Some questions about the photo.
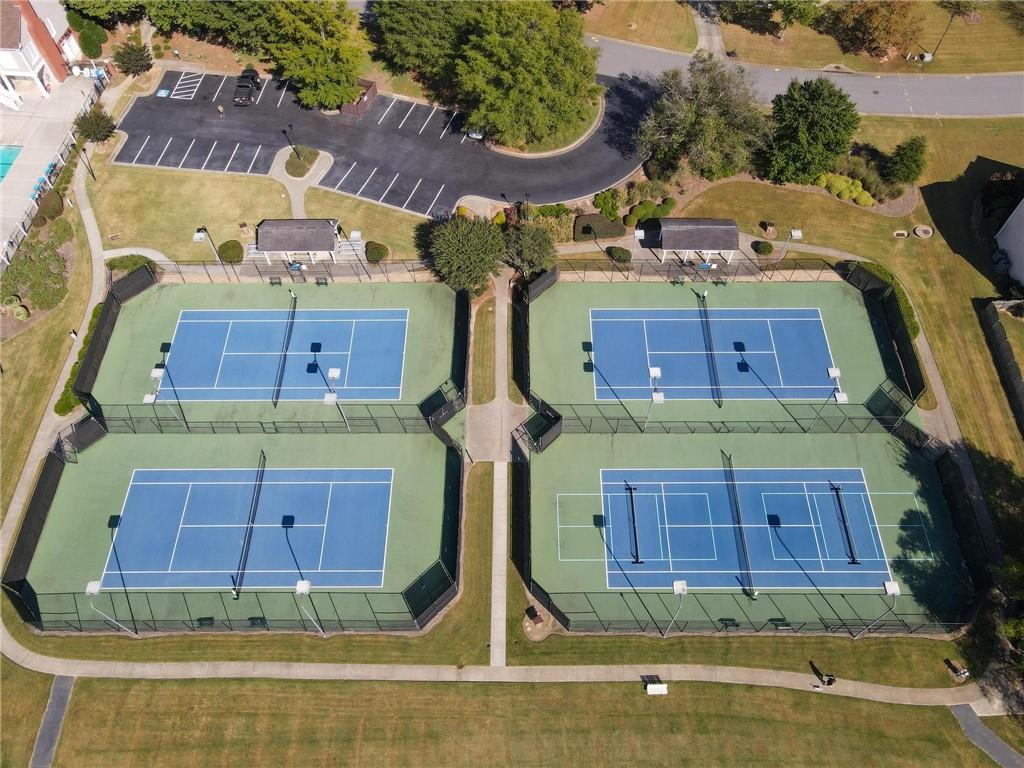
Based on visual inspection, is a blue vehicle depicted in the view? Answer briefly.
No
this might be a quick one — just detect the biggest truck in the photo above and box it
[230,72,258,106]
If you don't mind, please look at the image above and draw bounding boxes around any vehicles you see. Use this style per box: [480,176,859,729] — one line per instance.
[463,120,482,140]
[230,72,258,106]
